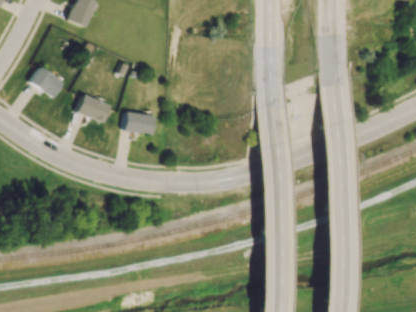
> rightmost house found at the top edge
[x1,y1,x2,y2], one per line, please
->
[68,0,98,28]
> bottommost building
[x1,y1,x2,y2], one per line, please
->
[123,111,157,135]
